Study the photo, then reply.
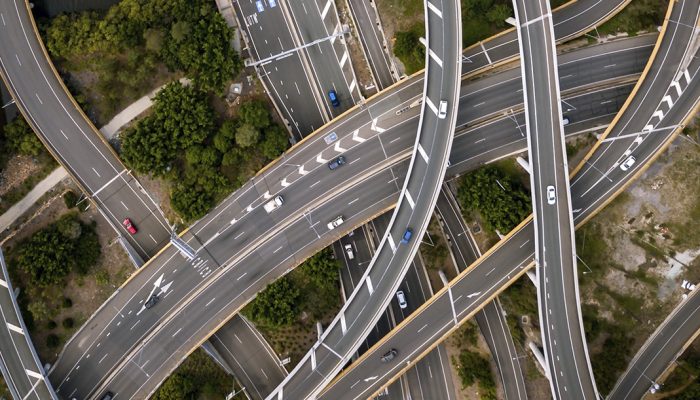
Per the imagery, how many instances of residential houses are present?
0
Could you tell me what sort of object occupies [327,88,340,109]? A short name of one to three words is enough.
vehicle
